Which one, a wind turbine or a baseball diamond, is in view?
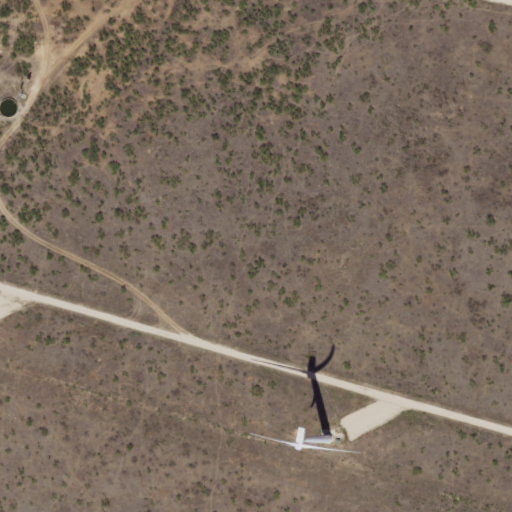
wind turbine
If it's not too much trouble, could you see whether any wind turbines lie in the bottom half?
Yes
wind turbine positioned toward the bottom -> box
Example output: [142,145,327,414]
[237,428,344,453]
